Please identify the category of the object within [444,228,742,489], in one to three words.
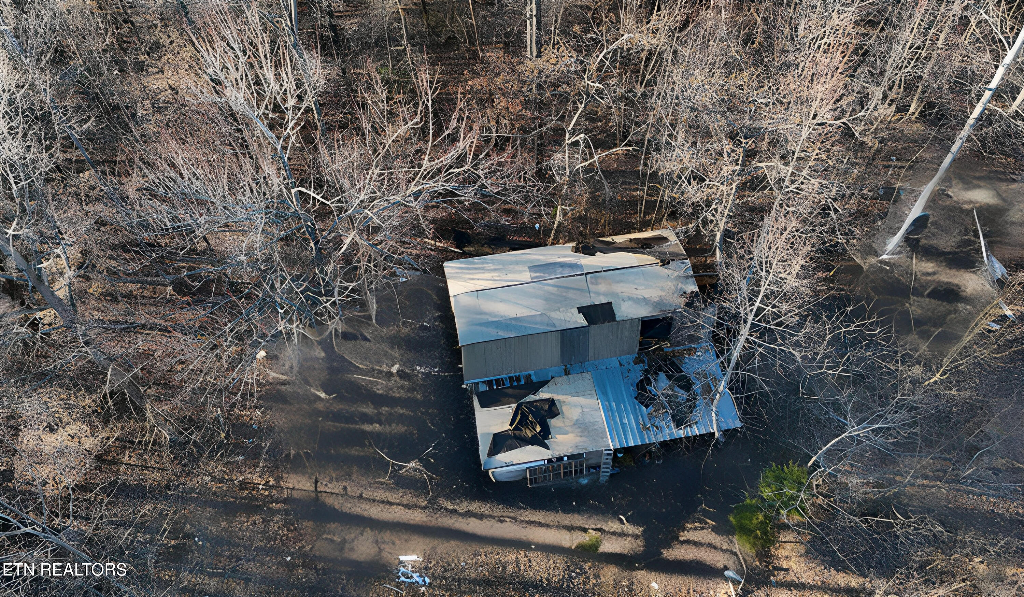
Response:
shed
